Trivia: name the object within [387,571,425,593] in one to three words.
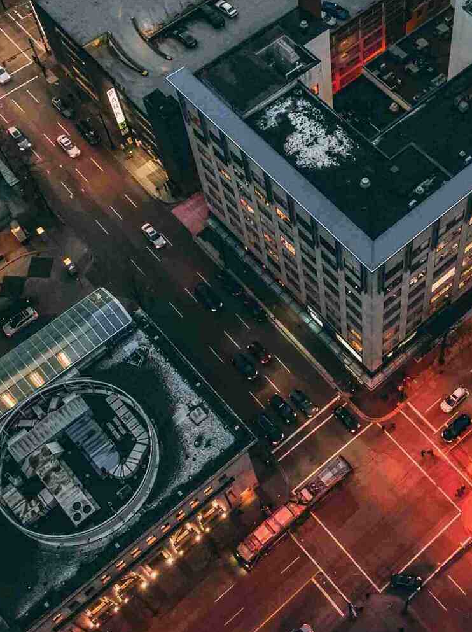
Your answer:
vehicle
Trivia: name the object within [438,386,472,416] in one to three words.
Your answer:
car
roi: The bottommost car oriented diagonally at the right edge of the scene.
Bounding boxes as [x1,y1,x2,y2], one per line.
[439,412,472,445]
